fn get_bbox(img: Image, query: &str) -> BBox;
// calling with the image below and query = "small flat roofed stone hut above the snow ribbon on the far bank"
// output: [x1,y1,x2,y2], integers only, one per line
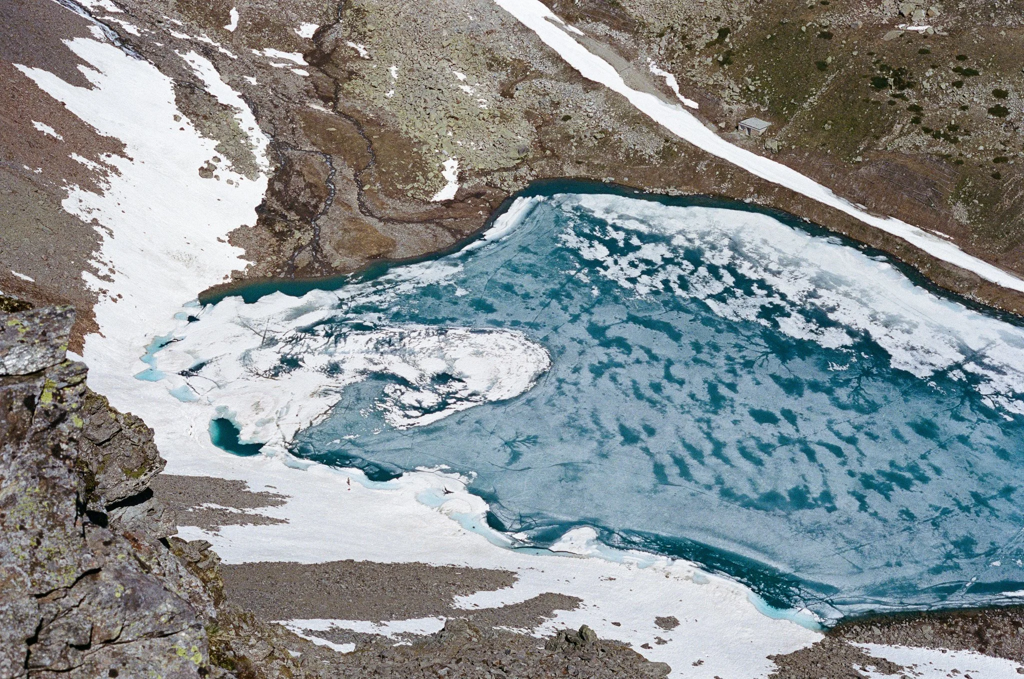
[739,119,769,142]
